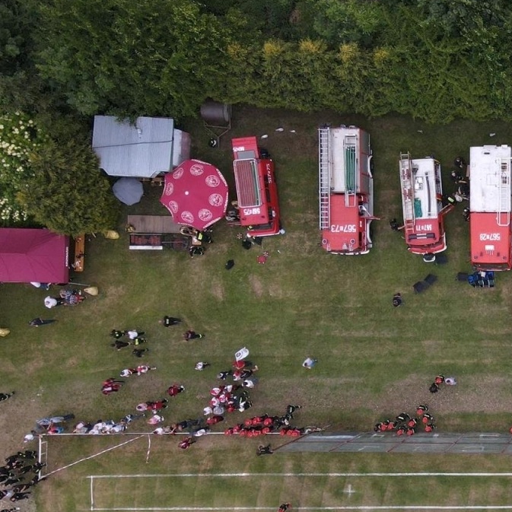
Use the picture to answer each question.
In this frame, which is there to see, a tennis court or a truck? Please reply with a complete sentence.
It is a truck that can be seen here.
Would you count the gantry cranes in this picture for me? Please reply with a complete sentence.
The photo contains no gantry cranes.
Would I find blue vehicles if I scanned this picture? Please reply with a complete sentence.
No, there appears to be no blue vehicle in this shot.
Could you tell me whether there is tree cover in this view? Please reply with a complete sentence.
Yes, the picture does contain tree cover.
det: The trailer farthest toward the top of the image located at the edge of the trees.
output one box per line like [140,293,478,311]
[197,101,233,150]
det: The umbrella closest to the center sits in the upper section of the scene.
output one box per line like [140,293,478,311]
[162,159,233,229]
